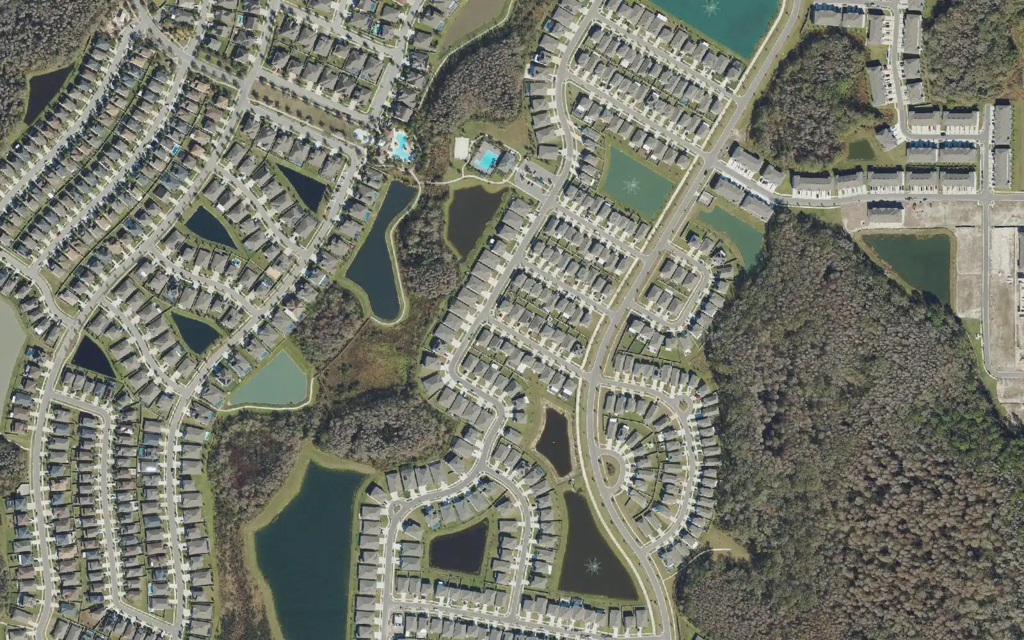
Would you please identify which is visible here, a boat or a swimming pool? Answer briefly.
swimming pool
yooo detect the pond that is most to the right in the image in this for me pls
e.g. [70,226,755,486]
[862,232,952,305]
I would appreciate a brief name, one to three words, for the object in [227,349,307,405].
pond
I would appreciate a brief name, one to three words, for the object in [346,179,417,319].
pond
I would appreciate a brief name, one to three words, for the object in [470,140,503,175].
swimming pool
